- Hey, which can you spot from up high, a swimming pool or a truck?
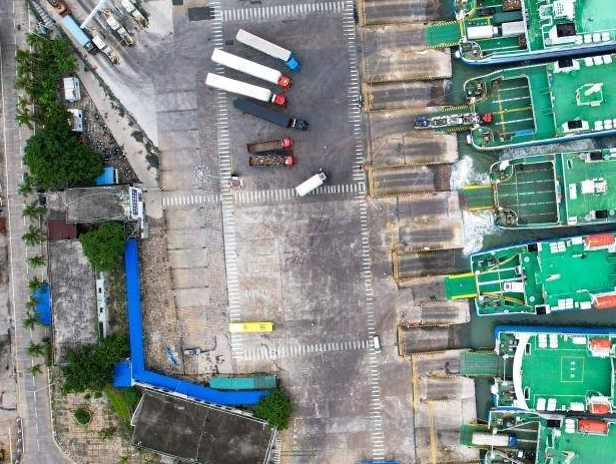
truck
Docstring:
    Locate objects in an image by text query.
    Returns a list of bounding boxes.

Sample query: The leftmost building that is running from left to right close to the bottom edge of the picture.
[131,386,282,464]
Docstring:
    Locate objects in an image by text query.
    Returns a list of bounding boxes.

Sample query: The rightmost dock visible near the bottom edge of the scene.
[401,349,481,464]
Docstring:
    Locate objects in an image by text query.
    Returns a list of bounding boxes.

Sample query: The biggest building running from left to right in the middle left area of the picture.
[64,185,144,223]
